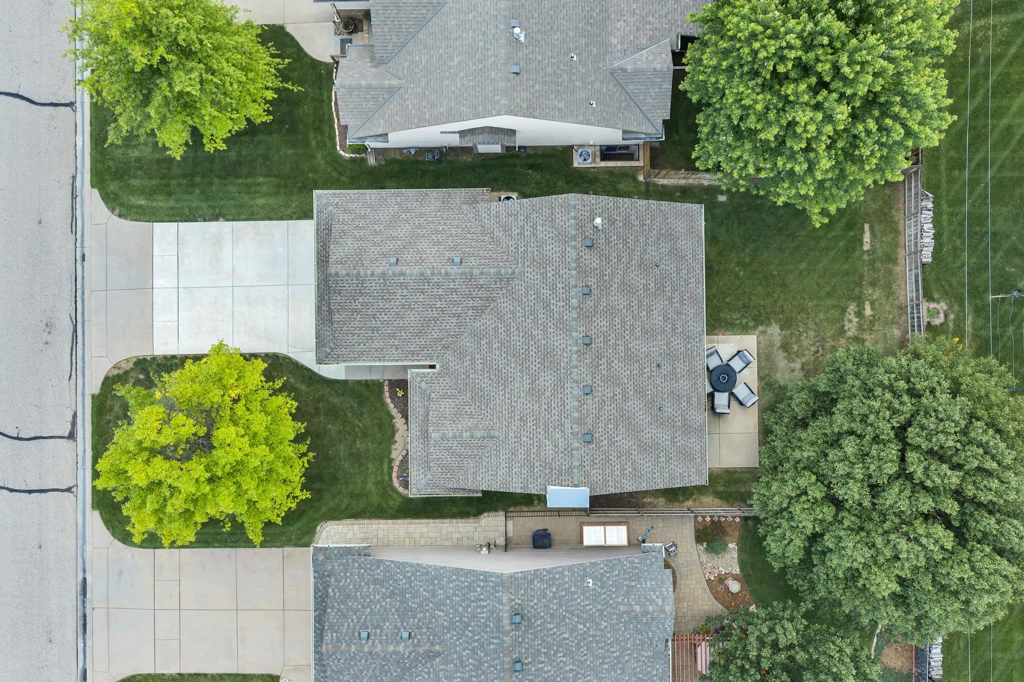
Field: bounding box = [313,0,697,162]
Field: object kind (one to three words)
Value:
house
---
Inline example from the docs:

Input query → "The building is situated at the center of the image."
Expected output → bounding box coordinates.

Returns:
[314,187,708,509]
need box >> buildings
[311,543,674,682]
[314,187,708,509]
[313,0,697,162]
